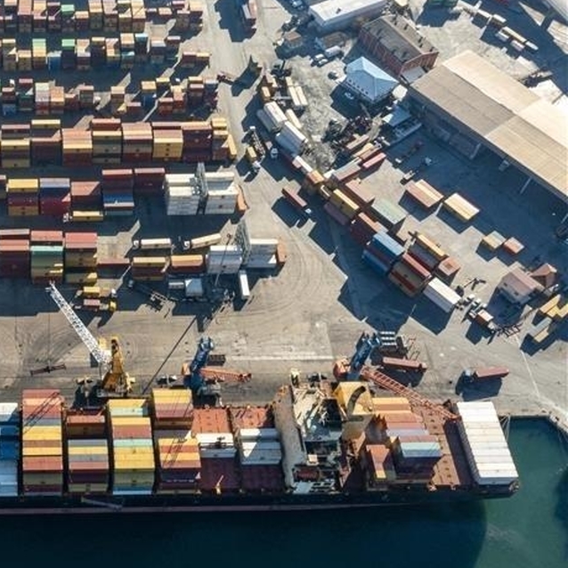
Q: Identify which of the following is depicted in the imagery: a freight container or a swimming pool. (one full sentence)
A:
This aerial view contains a freight container.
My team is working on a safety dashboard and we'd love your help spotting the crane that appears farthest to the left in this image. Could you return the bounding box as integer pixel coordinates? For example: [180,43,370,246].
[44,279,137,410]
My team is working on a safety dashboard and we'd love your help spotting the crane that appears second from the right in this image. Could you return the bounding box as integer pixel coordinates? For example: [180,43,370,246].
[180,335,257,417]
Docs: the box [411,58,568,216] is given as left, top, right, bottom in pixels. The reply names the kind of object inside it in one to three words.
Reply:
warehouse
